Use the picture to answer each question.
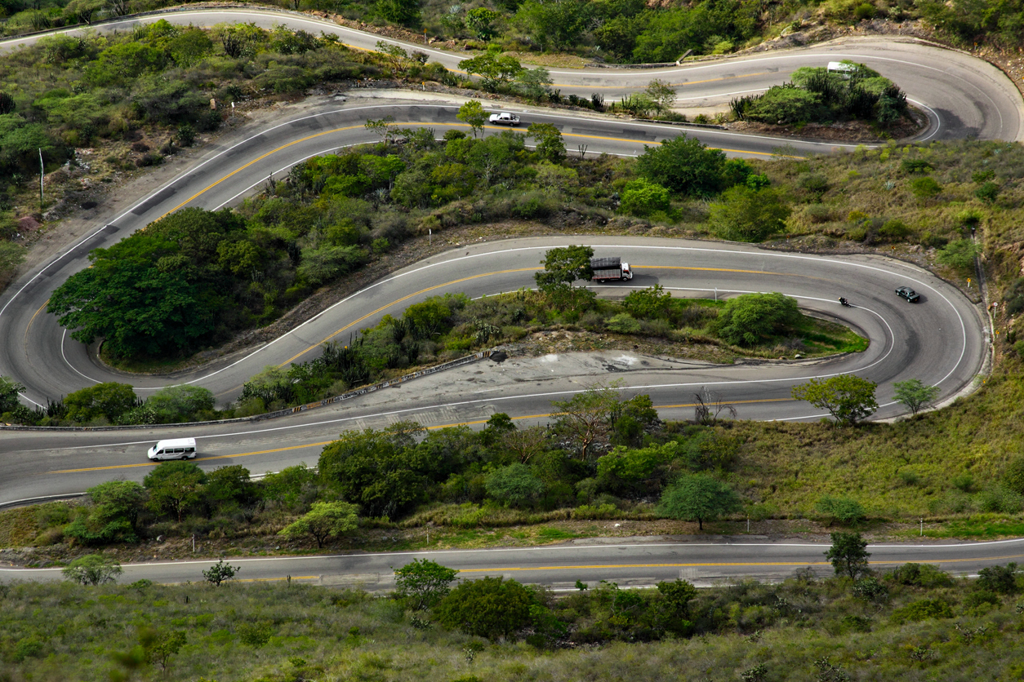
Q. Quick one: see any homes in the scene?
No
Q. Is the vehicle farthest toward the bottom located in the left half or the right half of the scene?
left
